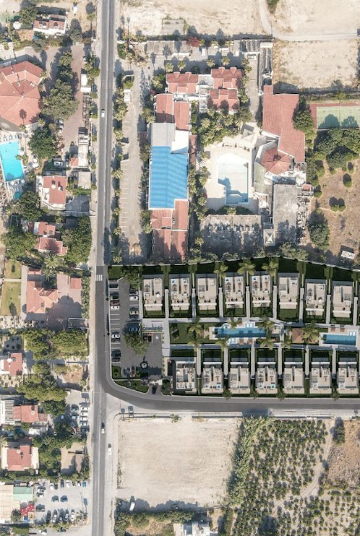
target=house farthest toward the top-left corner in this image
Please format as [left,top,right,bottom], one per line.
[33,14,67,37]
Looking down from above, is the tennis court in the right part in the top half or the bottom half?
top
